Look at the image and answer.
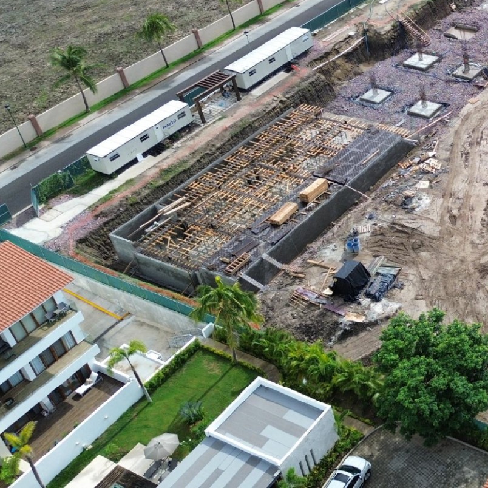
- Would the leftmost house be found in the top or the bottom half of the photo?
bottom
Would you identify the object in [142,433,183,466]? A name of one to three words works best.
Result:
umbrella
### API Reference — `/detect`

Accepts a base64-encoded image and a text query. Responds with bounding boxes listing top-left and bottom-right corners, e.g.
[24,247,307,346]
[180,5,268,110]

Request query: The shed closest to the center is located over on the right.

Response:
[324,263,373,305]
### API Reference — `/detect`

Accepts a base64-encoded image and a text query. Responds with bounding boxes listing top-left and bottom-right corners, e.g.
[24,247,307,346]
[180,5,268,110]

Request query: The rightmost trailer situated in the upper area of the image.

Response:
[224,27,311,90]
